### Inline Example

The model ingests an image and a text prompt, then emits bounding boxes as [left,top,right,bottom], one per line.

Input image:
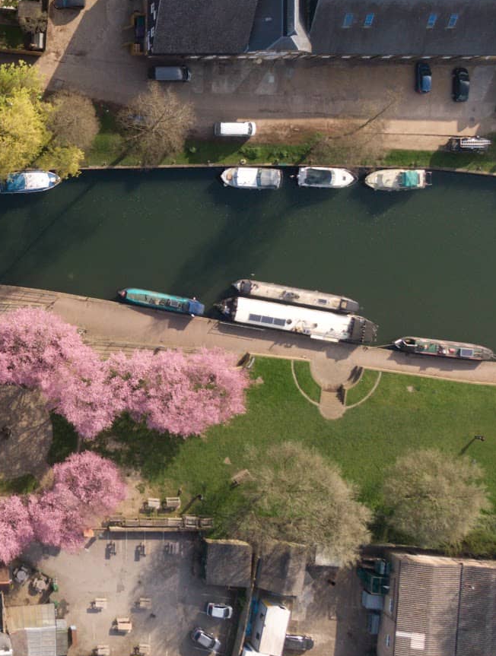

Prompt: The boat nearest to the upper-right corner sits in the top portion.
[362,169,432,191]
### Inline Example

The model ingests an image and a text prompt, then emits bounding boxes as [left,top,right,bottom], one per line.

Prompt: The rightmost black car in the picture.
[450,67,471,102]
